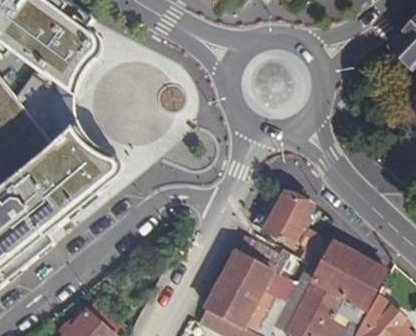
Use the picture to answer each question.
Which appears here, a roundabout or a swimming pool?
roundabout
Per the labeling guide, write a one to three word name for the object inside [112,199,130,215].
car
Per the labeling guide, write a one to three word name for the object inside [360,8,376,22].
car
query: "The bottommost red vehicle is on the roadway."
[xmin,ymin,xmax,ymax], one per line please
[160,288,172,305]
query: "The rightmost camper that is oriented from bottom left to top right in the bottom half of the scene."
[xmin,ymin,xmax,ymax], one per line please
[279,254,296,275]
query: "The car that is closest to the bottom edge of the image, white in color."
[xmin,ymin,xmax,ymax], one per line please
[19,315,36,330]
